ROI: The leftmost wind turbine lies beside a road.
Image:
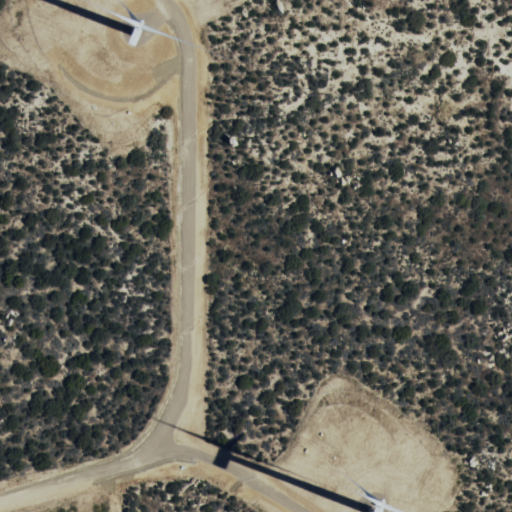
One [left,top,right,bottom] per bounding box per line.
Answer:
[96,4,206,48]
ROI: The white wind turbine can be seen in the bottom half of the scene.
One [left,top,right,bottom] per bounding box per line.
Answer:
[347,473,406,512]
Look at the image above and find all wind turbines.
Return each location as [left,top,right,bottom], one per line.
[347,473,406,512]
[96,4,206,48]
